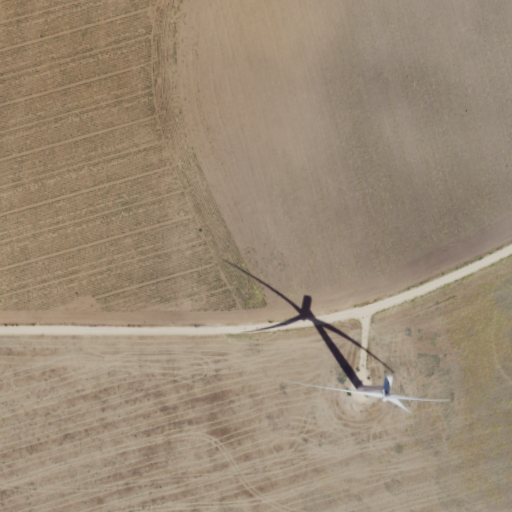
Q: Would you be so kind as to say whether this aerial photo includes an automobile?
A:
No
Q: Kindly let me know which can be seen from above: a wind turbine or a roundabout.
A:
wind turbine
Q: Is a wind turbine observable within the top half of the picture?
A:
No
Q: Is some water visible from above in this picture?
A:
No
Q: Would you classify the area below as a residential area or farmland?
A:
farmland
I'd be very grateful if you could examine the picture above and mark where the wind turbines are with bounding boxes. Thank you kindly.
[289,374,444,418]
